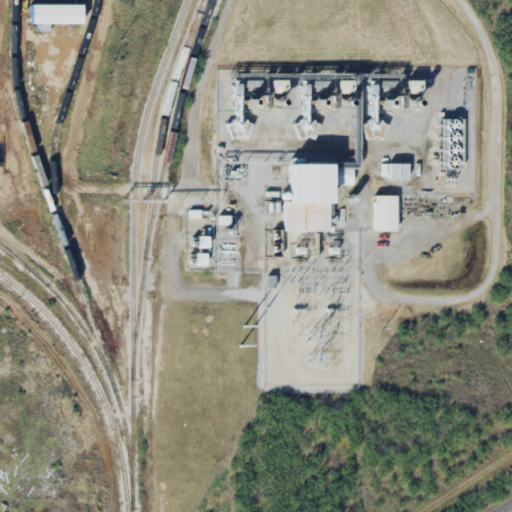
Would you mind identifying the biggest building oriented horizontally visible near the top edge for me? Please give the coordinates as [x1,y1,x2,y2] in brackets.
[31,4,86,26]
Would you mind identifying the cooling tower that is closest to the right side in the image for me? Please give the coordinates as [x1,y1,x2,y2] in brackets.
[436,118,468,171]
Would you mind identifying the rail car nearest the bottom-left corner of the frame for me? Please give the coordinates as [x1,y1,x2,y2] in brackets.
[63,248,81,281]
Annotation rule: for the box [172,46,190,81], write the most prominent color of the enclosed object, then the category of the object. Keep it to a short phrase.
white rail car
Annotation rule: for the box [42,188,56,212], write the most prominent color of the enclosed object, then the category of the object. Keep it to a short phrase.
white rail car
